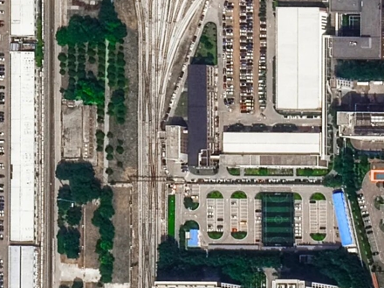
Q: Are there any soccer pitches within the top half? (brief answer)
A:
No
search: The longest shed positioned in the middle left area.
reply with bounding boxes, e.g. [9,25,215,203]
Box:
[9,51,39,242]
